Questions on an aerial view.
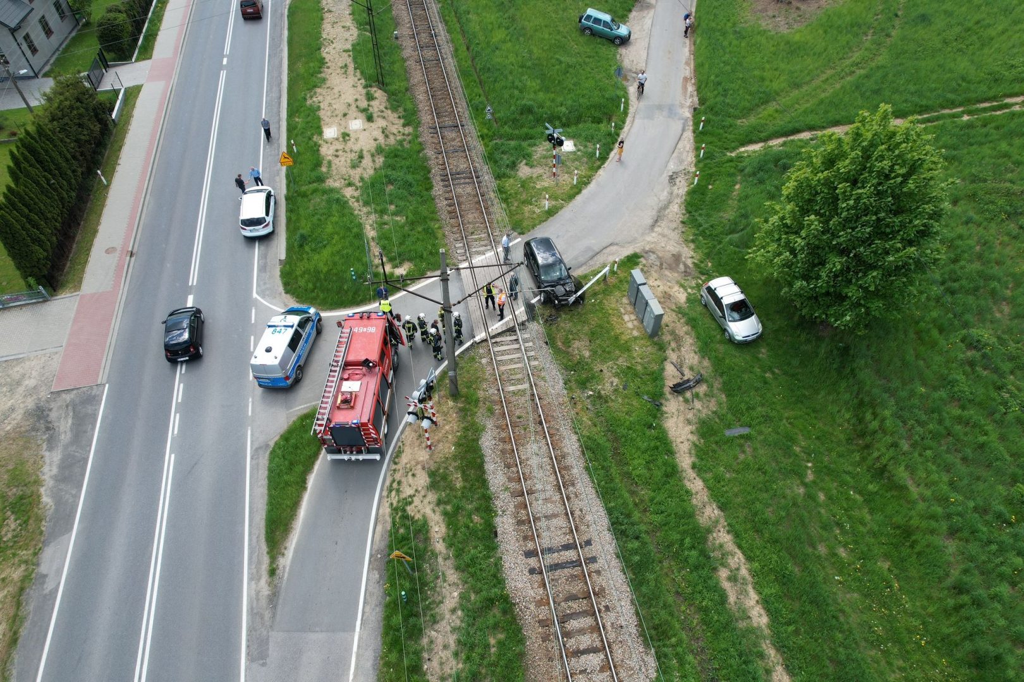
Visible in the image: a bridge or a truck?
truck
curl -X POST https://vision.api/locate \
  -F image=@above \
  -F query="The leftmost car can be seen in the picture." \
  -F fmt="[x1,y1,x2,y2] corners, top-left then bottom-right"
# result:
[158,301,205,363]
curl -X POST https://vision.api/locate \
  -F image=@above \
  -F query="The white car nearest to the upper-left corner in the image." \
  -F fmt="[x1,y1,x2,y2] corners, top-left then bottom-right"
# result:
[239,187,278,236]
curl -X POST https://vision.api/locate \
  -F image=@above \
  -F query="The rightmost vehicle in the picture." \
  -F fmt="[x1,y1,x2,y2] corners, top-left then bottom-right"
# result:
[701,280,763,344]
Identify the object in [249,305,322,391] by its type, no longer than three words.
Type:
van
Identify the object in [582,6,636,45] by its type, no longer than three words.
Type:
car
